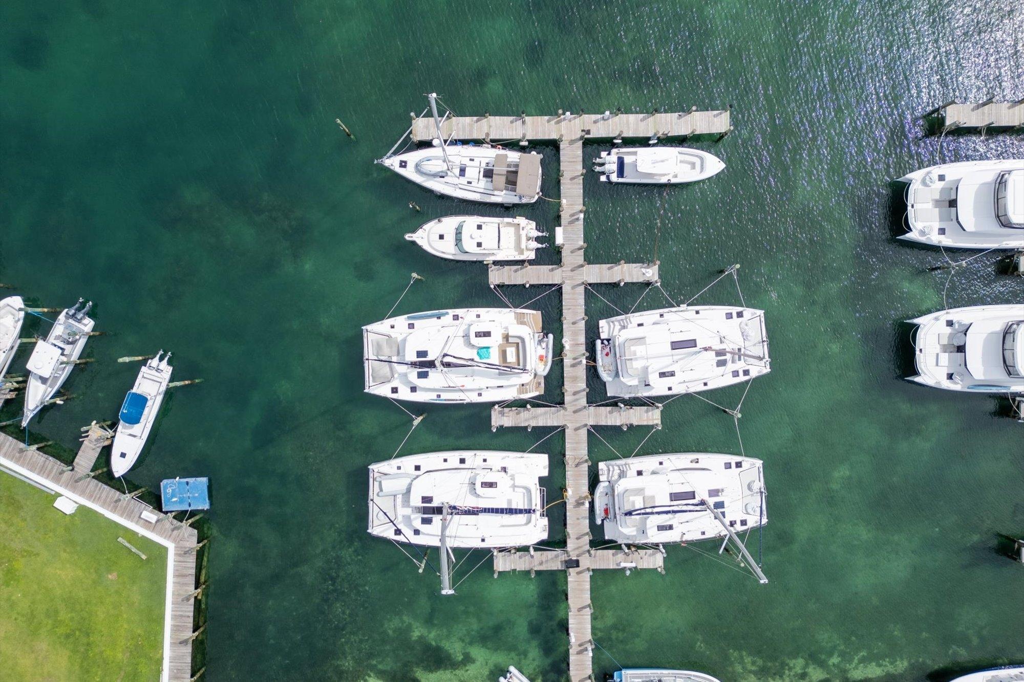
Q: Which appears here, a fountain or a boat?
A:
boat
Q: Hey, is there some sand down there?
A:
No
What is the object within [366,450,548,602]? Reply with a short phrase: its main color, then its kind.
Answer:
white boat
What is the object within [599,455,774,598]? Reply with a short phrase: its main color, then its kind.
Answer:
white boat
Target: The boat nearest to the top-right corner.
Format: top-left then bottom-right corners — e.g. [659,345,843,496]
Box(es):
[889,158,1024,249]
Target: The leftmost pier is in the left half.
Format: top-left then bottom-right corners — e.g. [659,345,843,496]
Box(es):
[0,375,30,416]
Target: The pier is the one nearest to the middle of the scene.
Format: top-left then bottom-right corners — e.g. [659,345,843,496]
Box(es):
[410,104,733,682]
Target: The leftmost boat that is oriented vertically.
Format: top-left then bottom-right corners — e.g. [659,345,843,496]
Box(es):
[0,297,33,377]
